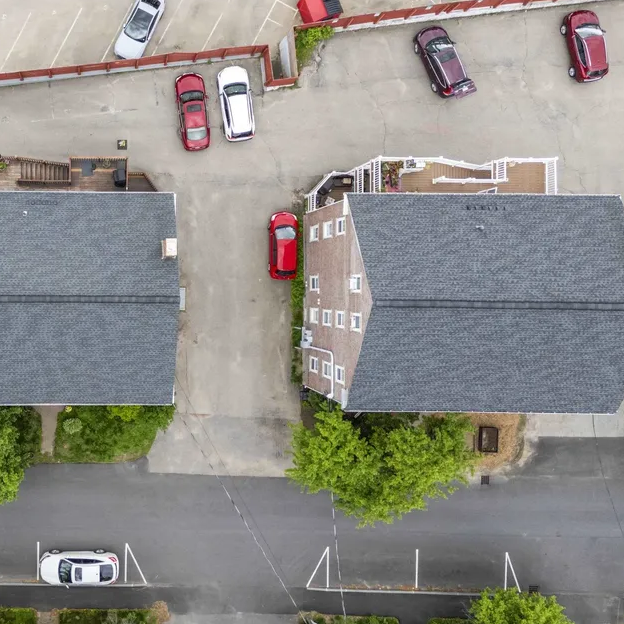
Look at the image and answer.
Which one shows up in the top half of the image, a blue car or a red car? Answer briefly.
red car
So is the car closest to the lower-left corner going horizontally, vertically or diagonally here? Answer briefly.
horizontally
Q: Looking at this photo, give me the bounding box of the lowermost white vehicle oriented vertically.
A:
[216,67,258,143]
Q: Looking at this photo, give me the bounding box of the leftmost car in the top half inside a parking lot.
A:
[115,0,165,60]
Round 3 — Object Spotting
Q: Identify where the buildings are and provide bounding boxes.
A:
[0,192,180,406]
[301,194,624,417]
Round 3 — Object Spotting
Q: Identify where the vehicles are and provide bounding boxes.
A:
[173,74,211,151]
[115,0,165,60]
[216,67,258,143]
[266,211,303,282]
[411,22,475,99]
[559,9,610,85]
[38,549,119,589]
